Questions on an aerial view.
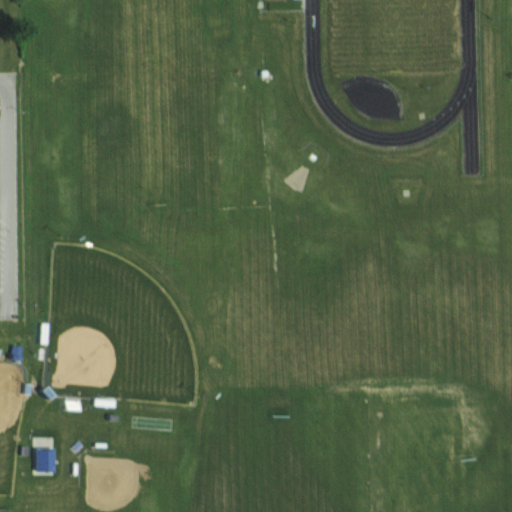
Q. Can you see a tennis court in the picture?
No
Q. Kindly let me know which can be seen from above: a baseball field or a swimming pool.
baseball field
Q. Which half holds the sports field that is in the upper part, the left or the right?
right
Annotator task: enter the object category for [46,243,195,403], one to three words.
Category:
baseball field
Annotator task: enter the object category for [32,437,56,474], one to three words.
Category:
building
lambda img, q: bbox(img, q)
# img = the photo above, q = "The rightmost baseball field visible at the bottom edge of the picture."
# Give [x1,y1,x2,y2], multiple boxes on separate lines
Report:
[84,455,150,511]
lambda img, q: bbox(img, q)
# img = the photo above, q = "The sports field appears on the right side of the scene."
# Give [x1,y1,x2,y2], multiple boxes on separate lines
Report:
[329,0,459,75]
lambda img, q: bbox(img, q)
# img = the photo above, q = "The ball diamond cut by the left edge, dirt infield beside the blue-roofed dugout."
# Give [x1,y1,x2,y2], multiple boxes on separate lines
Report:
[0,363,26,495]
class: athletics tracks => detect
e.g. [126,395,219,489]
[304,0,480,174]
